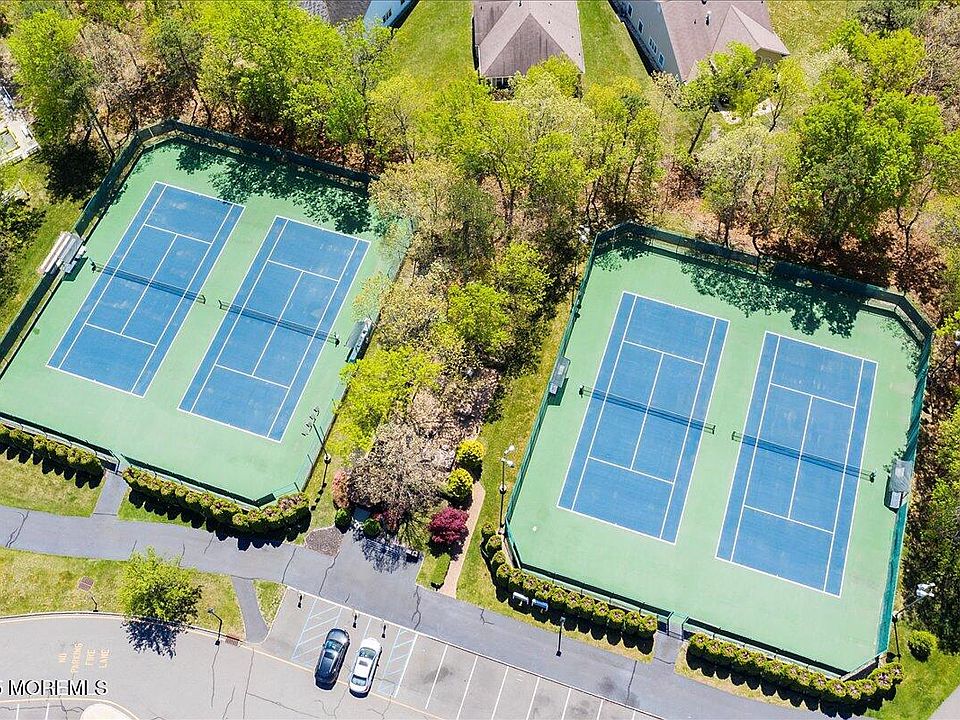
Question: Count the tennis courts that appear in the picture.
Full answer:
The picture shows 4 tennis courts.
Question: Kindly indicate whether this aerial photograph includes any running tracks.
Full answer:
No, there's no running track here.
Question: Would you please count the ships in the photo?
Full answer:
There are no ships in the image.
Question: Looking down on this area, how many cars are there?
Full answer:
I count 2 cars.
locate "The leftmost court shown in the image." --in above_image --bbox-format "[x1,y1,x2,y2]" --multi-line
[46,181,244,398]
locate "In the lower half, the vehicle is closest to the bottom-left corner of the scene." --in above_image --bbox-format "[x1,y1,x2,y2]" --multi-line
[312,628,350,691]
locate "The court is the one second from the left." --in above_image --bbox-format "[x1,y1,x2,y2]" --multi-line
[178,216,370,442]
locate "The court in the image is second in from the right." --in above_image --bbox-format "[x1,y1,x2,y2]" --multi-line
[558,291,730,544]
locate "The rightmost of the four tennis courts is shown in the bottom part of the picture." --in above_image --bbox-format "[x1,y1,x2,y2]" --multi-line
[715,331,878,598]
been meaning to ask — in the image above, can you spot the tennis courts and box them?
[558,291,730,544]
[715,331,878,598]
[178,216,370,442]
[46,181,244,398]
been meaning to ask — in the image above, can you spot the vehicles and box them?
[348,638,382,698]
[312,628,350,691]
